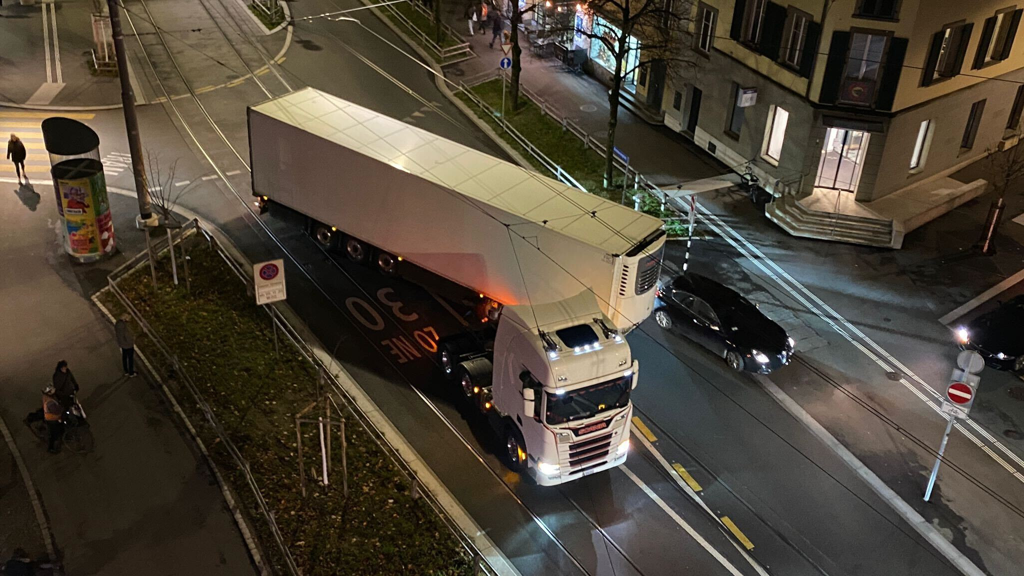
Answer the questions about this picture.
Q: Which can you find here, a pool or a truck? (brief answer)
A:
truck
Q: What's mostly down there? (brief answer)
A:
paved ground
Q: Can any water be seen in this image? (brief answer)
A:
No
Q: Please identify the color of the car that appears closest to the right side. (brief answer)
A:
black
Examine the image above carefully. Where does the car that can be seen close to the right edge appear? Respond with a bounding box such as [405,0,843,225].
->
[955,287,1024,371]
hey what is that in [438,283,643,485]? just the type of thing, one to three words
truck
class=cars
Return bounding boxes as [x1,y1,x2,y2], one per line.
[955,287,1024,371]
[658,273,800,373]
